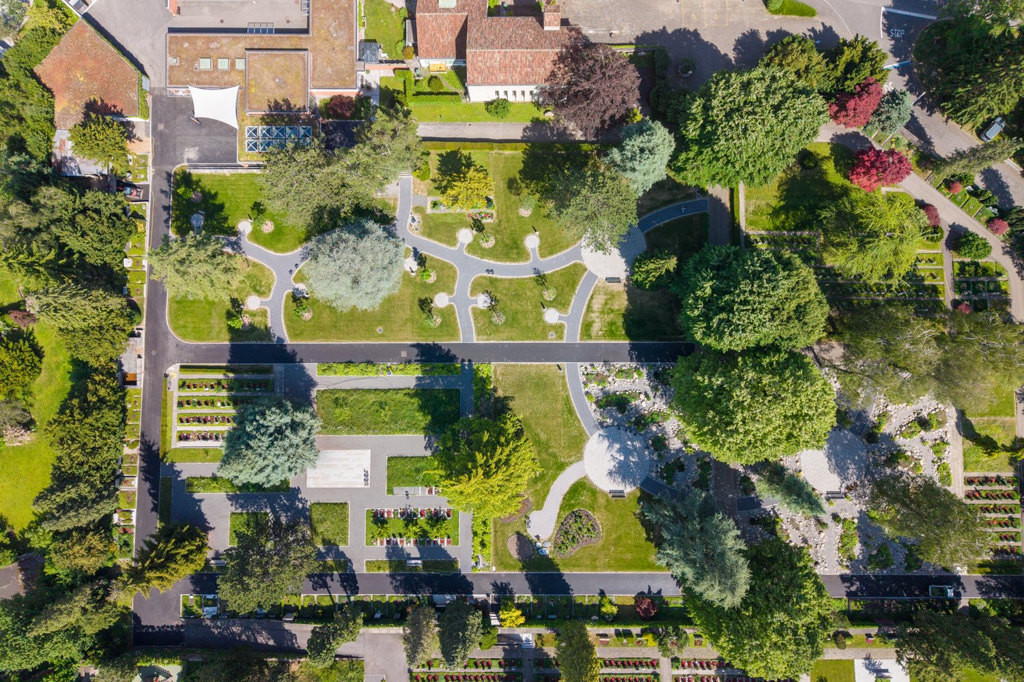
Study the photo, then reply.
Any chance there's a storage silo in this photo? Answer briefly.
No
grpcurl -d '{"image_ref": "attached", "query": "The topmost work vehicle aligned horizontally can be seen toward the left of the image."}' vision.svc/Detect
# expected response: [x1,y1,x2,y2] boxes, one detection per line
[105,184,137,197]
